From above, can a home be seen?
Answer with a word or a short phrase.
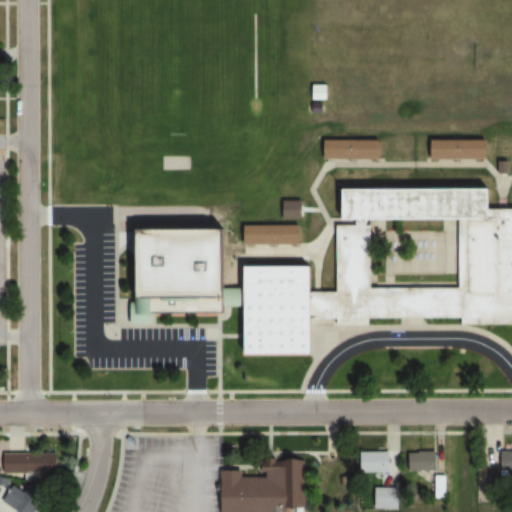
Yes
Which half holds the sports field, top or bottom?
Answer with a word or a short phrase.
top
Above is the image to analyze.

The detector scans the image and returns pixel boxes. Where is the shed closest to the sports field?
[283,200,302,219]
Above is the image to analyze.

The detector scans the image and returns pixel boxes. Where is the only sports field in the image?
[53,0,300,202]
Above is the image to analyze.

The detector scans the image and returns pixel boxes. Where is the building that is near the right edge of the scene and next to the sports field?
[310,188,512,326]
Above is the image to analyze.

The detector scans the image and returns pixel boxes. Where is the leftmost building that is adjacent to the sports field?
[130,228,241,325]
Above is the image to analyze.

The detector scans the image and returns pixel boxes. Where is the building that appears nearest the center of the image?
[244,224,302,248]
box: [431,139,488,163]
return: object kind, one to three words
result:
building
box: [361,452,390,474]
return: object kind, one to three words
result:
house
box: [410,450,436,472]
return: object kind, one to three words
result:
house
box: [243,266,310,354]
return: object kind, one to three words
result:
building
